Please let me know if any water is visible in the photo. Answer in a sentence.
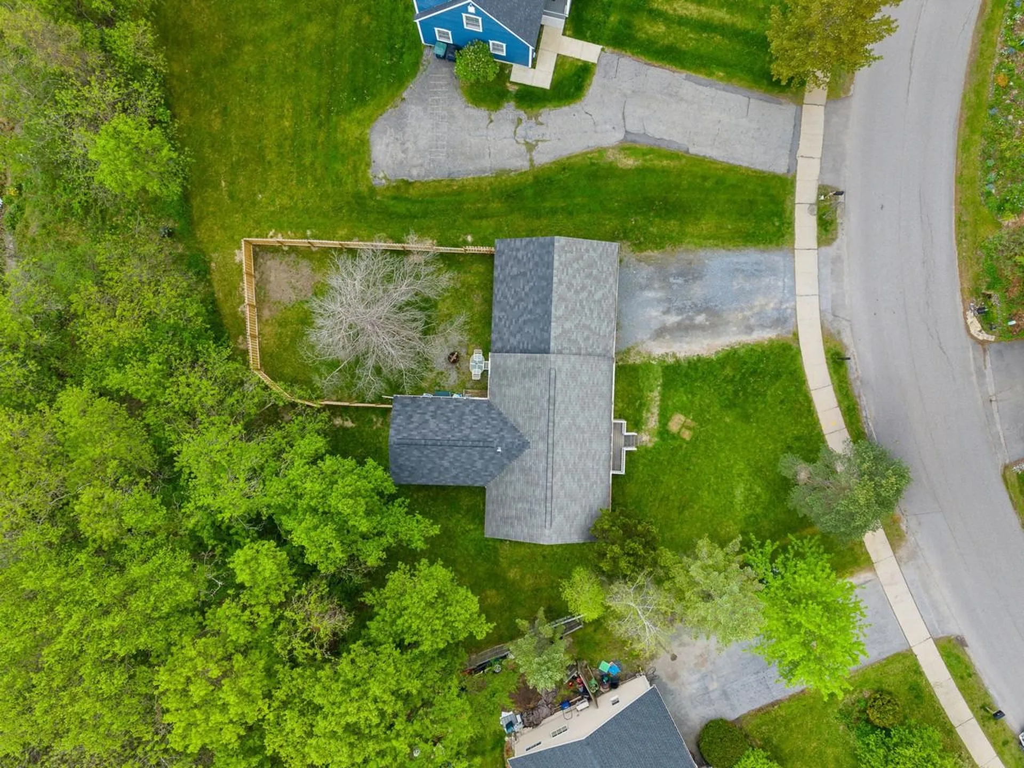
No, there is no water in the image.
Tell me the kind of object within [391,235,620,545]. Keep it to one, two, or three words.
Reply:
house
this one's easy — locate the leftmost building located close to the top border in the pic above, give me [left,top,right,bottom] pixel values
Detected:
[413,0,546,68]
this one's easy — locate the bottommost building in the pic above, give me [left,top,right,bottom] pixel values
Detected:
[506,674,698,768]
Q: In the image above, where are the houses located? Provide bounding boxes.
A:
[391,235,620,545]
[413,0,546,68]
[506,674,698,768]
